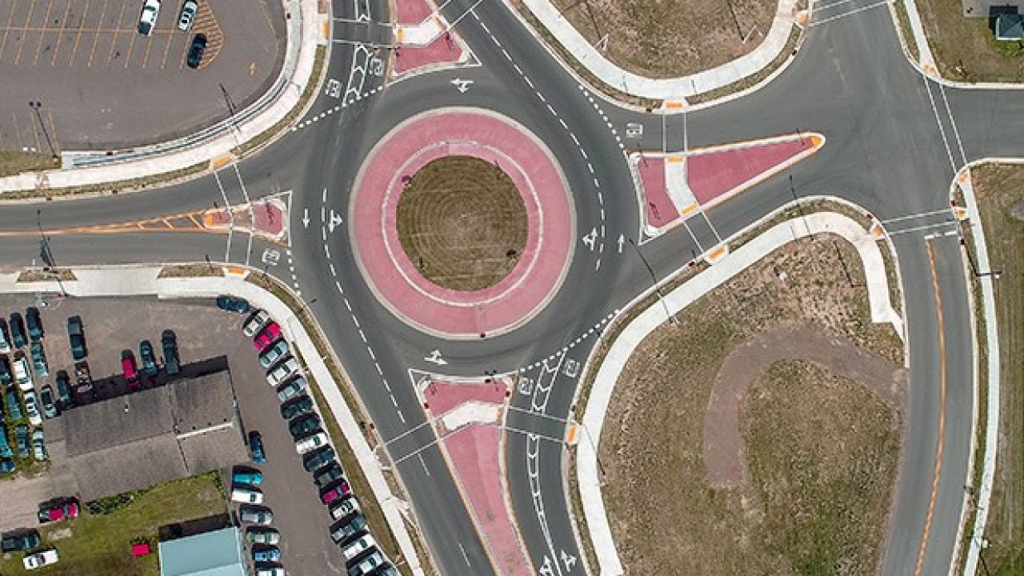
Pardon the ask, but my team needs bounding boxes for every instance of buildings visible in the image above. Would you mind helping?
[993,14,1024,41]
[158,524,251,576]
[47,368,251,499]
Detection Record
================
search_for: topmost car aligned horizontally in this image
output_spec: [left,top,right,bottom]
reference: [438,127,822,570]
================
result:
[216,295,249,313]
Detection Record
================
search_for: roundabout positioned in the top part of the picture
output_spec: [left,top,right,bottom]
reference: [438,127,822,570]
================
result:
[308,66,619,380]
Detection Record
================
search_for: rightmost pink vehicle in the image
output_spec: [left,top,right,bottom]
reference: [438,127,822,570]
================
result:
[318,479,352,504]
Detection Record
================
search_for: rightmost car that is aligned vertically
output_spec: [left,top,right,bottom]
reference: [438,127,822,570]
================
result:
[247,431,265,463]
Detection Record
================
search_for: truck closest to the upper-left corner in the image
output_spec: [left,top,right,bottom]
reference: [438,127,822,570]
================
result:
[138,0,161,36]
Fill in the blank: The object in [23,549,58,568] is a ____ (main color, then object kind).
white car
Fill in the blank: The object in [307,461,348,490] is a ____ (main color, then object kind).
gray truck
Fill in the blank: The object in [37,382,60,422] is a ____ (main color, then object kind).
gray truck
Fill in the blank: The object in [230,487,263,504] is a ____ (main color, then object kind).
white car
